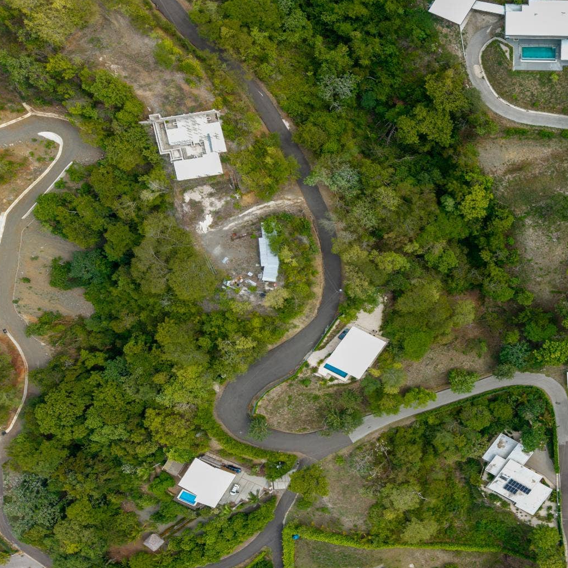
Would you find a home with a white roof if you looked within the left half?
Yes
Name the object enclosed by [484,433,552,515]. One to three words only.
house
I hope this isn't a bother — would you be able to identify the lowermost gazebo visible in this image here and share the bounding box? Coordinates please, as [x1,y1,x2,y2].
[143,531,168,550]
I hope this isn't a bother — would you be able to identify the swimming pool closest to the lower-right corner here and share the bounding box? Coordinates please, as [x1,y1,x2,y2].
[323,363,349,379]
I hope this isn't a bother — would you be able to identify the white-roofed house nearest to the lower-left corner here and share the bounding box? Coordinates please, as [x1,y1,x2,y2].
[173,457,236,512]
